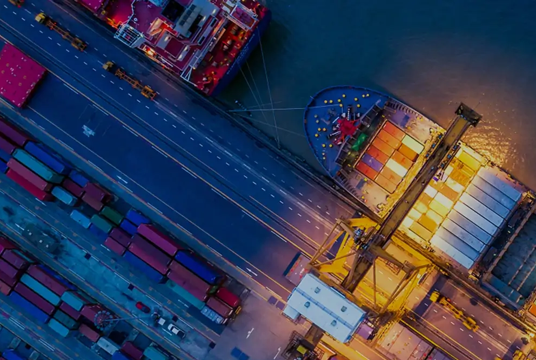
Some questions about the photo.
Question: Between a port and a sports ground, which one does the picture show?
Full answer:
What you see here is a port.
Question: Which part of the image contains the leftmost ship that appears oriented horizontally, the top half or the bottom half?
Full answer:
It is in the top half that the leftmost ship that appears oriented horizontally appears.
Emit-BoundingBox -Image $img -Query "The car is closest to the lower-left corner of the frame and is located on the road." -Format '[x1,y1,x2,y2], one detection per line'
[136,300,153,315]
